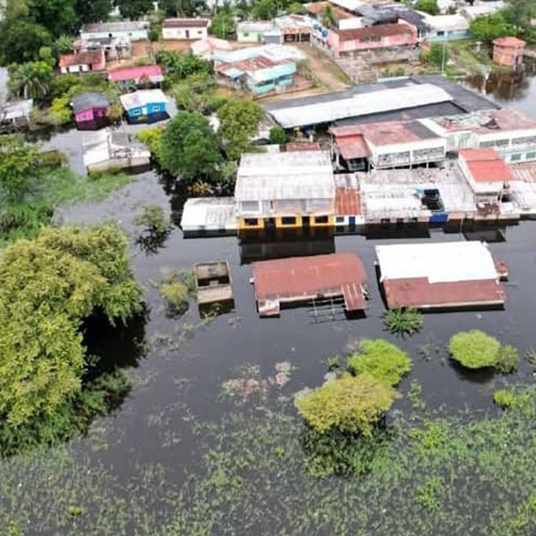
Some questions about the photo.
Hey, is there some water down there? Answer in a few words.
Yes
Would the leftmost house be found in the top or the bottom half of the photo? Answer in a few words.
top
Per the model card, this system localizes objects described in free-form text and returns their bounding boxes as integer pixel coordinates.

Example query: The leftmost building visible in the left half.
[3,100,33,128]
